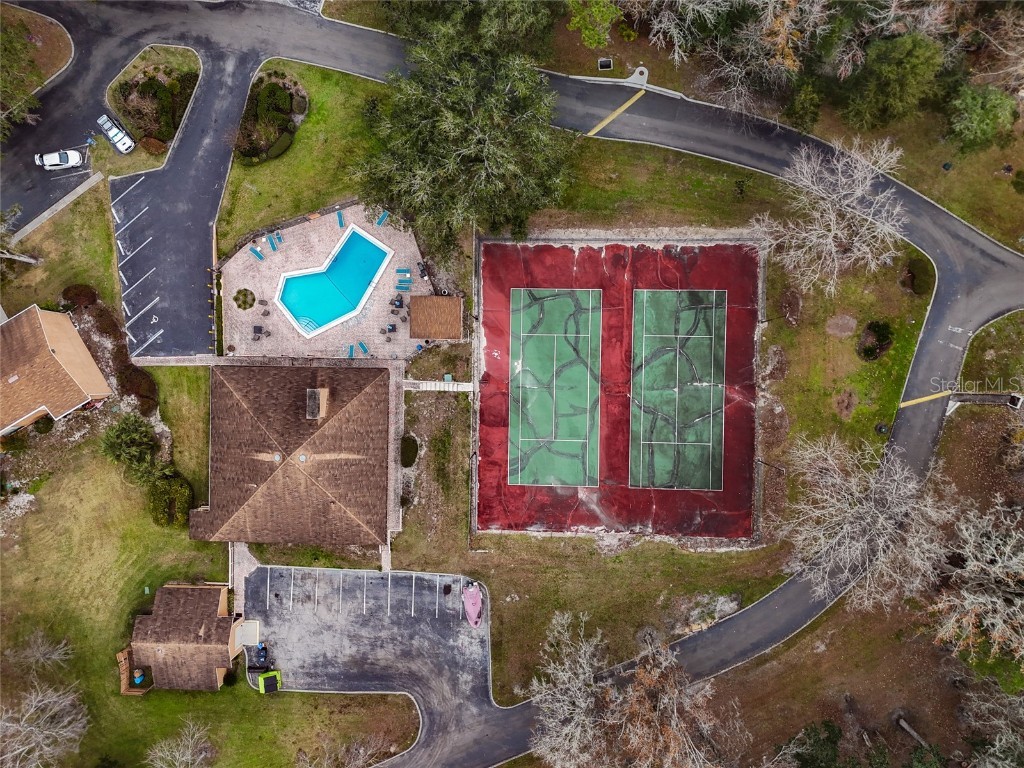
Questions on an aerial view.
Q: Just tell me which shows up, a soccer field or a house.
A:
house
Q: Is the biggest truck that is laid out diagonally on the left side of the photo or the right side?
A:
left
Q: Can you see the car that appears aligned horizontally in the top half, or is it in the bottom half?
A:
top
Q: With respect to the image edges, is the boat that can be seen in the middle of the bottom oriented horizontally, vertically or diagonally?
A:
vertically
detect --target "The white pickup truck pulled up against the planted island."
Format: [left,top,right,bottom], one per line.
[95,111,137,157]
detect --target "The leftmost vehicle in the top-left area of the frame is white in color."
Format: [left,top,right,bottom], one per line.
[34,151,86,172]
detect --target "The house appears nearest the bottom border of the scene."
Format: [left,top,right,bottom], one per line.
[132,583,245,690]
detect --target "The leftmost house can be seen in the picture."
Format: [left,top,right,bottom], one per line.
[0,304,112,436]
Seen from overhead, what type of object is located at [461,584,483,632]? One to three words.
boat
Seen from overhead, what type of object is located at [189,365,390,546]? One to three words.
building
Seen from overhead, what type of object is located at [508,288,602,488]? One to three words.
tennis court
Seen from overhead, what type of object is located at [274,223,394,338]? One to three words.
swimming pool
